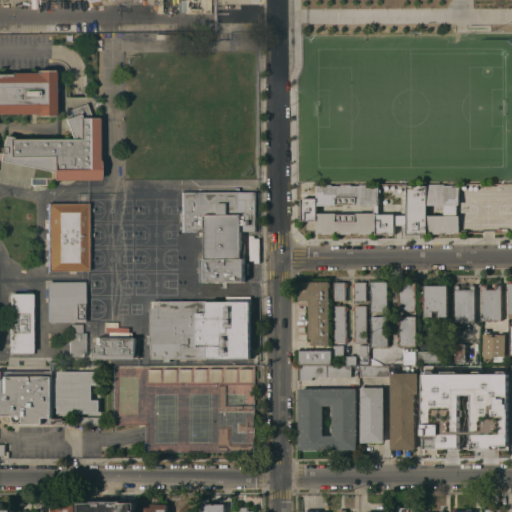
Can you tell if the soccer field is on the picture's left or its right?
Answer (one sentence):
The soccer field sits on the right side.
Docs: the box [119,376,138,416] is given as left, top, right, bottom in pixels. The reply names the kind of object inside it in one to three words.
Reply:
sports court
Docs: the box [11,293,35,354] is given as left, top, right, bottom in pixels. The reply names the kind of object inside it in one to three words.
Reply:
building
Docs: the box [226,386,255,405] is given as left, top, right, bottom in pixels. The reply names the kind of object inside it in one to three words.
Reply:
sports court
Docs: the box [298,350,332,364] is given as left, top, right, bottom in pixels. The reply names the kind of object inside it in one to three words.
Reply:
house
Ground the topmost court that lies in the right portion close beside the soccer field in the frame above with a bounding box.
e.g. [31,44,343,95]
[462,186,512,231]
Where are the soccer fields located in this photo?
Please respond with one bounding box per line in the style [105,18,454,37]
[297,34,512,182]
